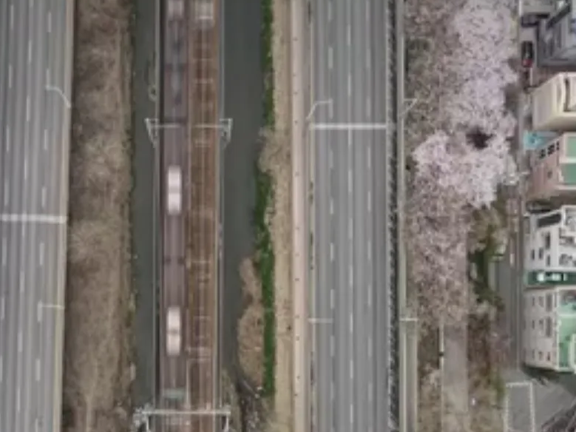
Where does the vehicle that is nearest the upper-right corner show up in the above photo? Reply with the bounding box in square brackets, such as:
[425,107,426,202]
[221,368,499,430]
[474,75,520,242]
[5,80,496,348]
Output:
[519,13,541,26]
